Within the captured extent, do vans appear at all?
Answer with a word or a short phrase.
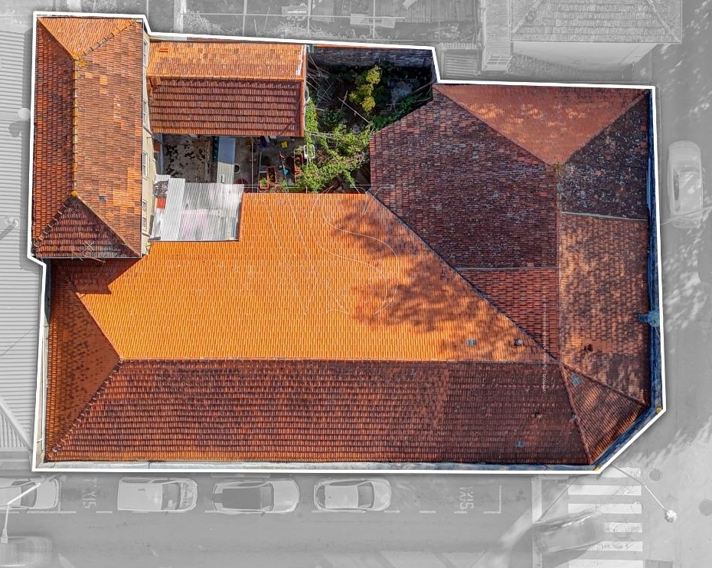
Yes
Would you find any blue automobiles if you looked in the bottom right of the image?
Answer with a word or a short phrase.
No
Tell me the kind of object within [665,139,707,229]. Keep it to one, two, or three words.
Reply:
car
